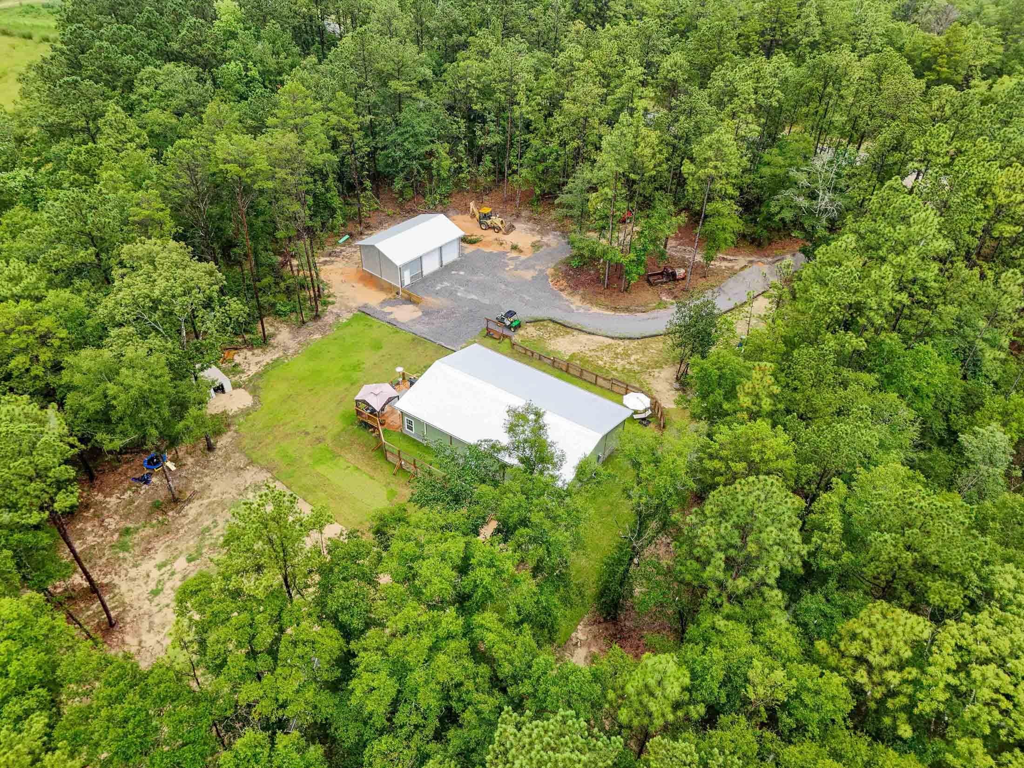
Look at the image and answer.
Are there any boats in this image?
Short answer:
No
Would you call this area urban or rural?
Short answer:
rural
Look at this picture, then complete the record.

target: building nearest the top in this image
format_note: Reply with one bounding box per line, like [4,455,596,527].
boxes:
[355,214,465,295]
